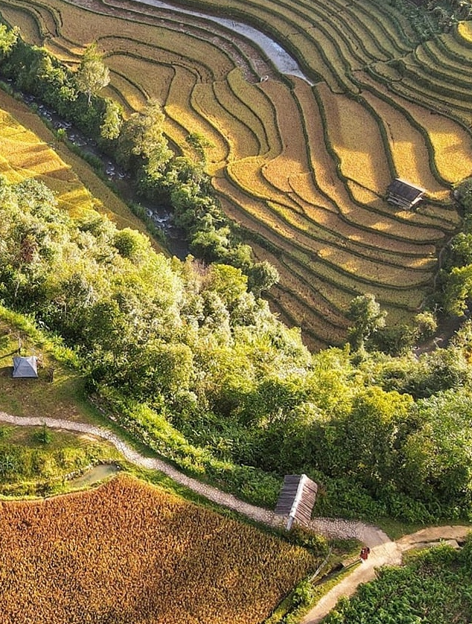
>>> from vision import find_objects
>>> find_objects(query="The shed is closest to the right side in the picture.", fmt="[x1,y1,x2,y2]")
[381,177,428,218]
